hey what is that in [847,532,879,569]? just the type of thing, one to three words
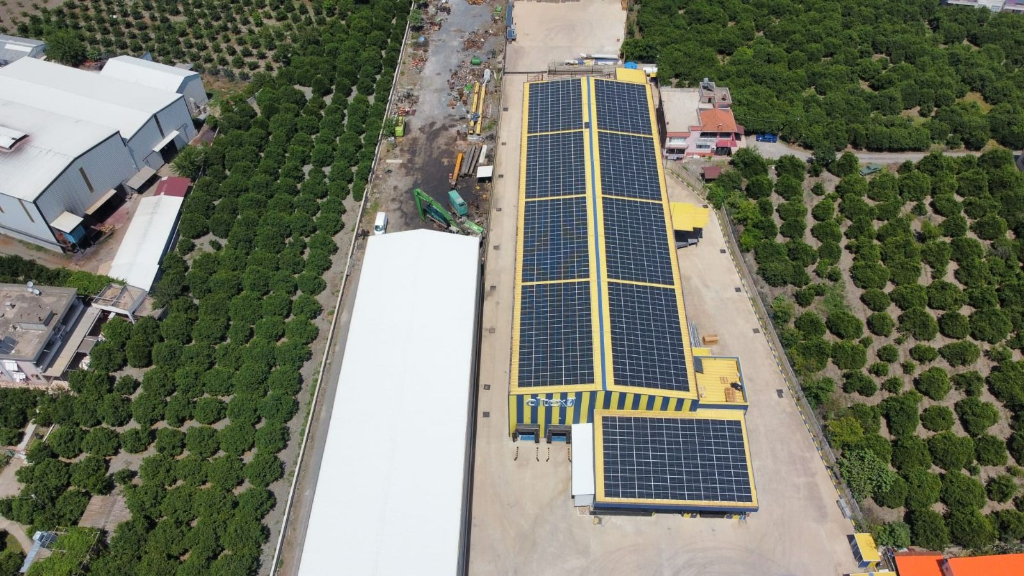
shed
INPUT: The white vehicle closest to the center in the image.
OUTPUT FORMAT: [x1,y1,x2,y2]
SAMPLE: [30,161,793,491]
[372,207,389,235]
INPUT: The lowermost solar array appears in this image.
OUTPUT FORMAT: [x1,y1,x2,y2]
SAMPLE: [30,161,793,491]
[602,416,753,503]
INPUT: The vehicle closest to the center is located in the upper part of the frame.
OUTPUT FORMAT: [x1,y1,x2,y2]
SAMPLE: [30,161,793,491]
[414,189,471,235]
